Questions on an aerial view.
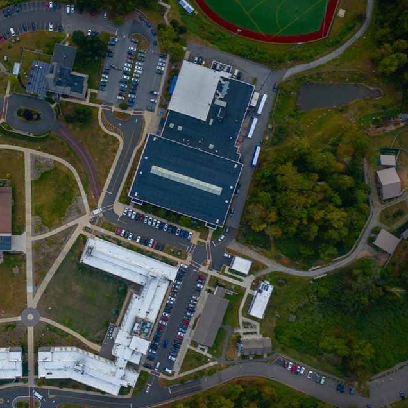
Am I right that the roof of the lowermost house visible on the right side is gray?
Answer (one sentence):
Yes, the roof of the lowermost house visible on the right side appears gray.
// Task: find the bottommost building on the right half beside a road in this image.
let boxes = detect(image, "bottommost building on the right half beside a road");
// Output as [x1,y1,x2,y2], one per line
[238,337,274,359]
